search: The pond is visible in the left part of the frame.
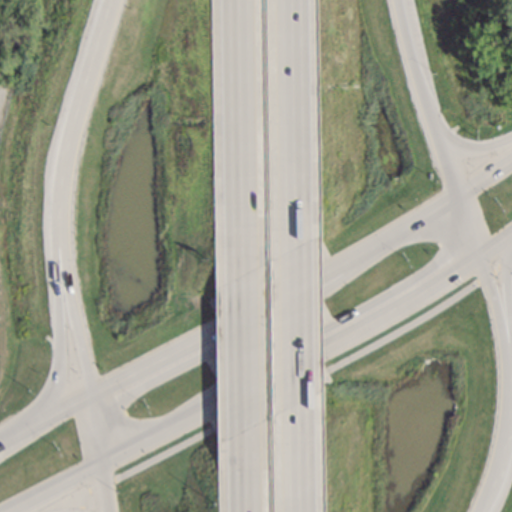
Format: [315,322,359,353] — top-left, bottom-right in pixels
[106,88,160,317]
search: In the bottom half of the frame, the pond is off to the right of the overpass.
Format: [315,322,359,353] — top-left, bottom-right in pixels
[384,360,456,512]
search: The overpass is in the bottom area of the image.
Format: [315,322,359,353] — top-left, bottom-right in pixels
[214,238,332,442]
